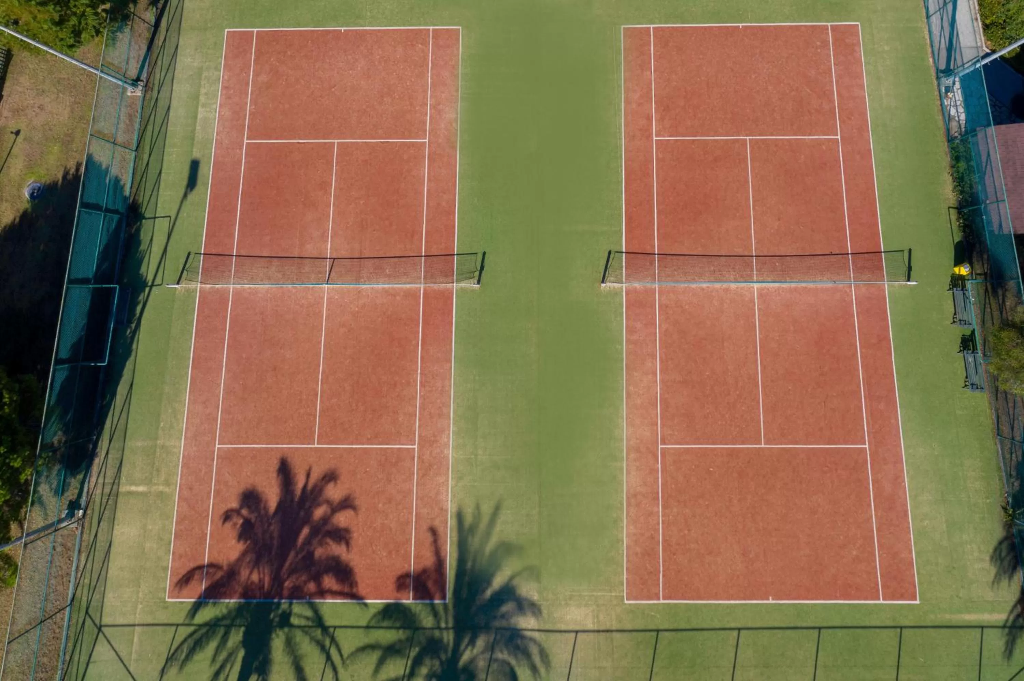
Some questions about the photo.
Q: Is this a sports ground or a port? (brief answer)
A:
sports ground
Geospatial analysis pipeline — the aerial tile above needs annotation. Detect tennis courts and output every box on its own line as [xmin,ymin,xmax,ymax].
[621,22,920,604]
[166,26,461,603]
